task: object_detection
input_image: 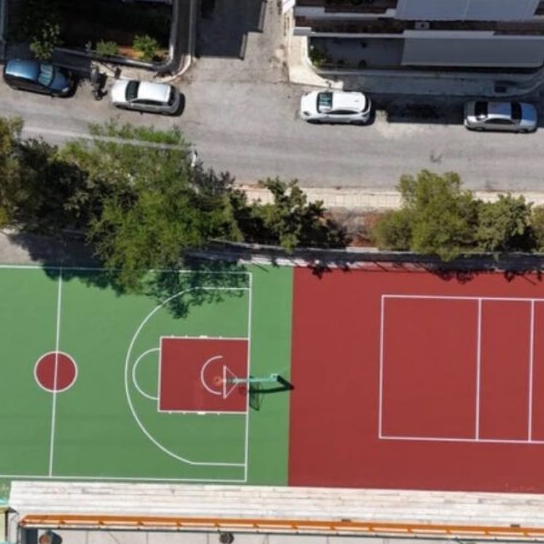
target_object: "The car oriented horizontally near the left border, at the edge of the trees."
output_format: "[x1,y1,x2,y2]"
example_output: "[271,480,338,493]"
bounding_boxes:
[3,57,75,98]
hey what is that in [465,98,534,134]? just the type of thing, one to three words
car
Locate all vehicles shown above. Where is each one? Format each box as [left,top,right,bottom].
[85,65,100,98]
[465,98,534,134]
[3,57,75,98]
[112,75,181,115]
[300,86,370,124]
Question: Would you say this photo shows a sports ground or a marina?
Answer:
sports ground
